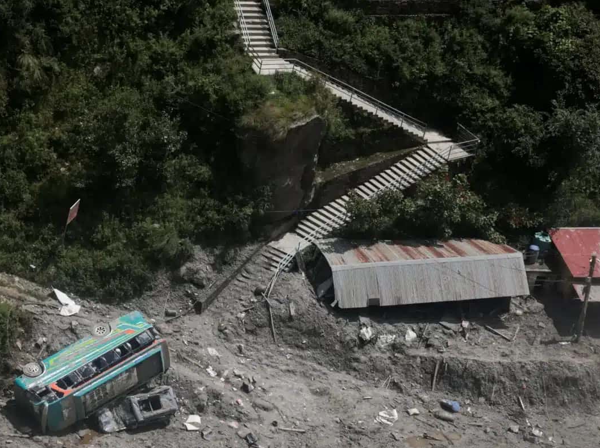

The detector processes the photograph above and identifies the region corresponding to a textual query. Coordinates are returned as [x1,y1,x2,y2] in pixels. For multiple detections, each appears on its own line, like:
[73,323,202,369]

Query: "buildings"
[314,240,530,322]
[551,226,600,324]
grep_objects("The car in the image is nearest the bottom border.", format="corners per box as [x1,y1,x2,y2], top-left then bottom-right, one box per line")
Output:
[92,381,181,439]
